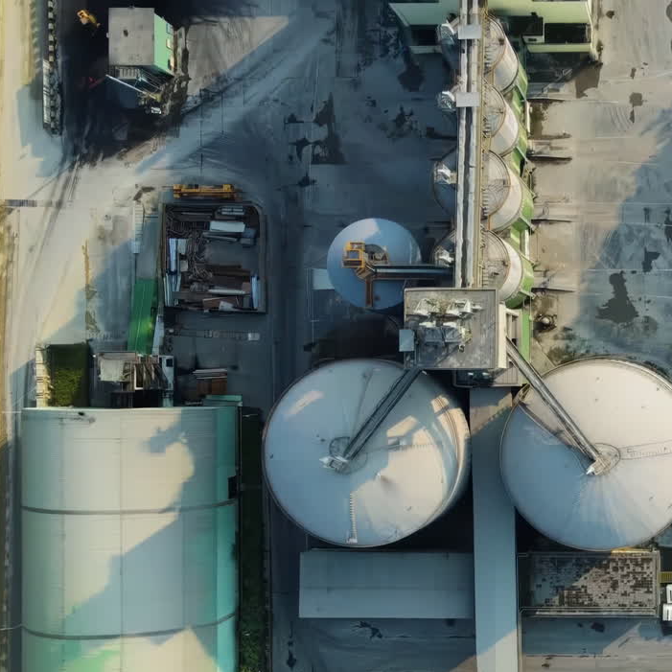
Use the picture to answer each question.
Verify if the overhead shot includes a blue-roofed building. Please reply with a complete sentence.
Yes, there's a blue-roofed building down there.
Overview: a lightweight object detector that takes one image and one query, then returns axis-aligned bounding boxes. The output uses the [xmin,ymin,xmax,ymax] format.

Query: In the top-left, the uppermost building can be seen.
[108,6,186,78]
